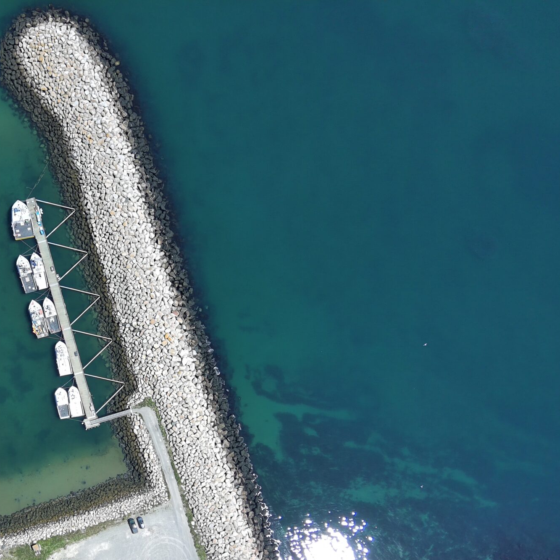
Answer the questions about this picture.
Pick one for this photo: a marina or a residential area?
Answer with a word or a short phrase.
marina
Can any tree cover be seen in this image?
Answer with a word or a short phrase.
No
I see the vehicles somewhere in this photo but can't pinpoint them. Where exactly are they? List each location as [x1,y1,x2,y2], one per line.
[137,515,145,531]
[127,517,139,535]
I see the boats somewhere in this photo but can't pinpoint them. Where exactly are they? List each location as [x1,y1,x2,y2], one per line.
[30,299,48,338]
[32,252,49,290]
[44,297,61,334]
[18,254,37,293]
[55,387,71,419]
[55,340,72,376]
[67,386,84,417]
[13,200,33,240]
